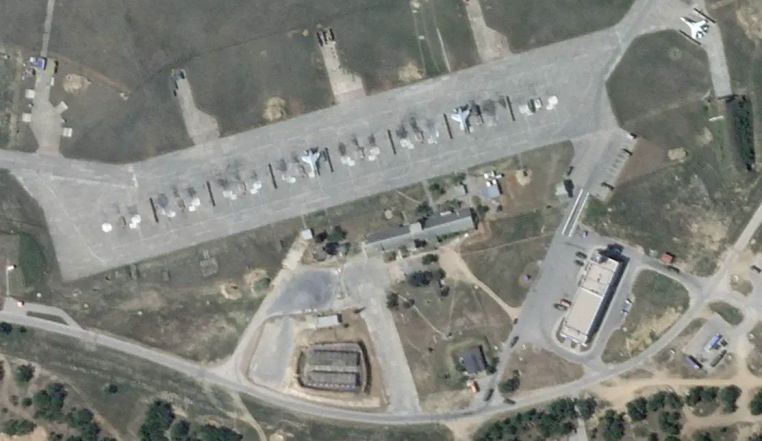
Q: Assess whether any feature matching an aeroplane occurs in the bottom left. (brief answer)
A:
No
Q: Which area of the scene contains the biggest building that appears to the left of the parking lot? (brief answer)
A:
center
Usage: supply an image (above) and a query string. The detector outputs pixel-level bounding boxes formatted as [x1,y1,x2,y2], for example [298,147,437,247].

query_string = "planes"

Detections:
[682,18,706,37]
[301,149,320,175]
[451,106,469,132]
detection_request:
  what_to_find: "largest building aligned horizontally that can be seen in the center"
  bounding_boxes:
[363,210,474,254]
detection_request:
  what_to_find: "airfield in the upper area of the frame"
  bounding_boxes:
[0,0,731,281]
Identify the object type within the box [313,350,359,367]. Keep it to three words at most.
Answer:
shed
